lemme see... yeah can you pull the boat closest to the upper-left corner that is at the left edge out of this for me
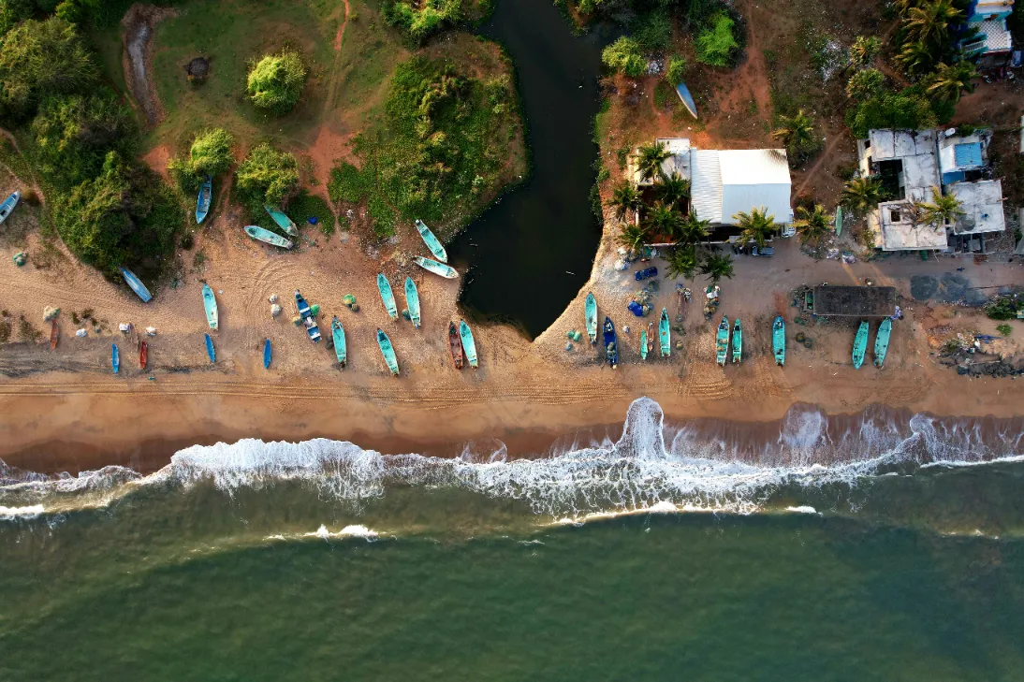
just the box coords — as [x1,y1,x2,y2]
[0,190,21,230]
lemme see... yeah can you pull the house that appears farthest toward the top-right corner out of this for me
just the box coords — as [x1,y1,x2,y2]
[957,0,1016,72]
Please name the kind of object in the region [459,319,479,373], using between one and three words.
boat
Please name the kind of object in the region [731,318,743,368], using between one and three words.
boat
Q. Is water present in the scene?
Yes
